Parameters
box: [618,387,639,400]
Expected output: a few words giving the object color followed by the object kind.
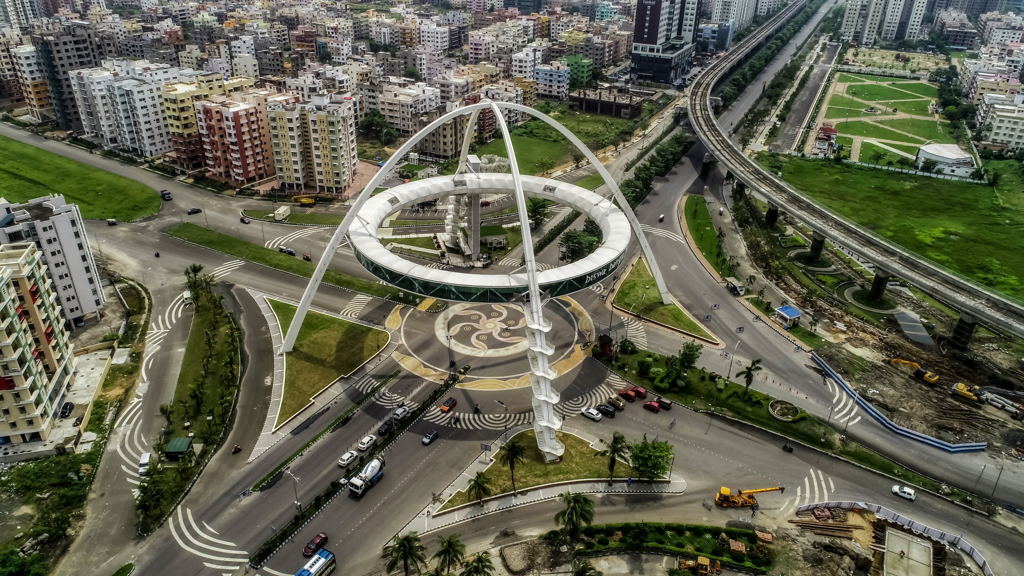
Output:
red vehicle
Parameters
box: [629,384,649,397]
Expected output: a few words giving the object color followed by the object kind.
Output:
red vehicle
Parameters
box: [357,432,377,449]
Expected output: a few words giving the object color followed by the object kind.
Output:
white car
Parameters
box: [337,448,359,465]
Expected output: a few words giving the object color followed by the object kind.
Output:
white car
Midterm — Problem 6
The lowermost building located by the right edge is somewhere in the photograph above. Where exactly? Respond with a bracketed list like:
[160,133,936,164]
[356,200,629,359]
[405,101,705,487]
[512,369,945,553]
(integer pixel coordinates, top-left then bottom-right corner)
[907,141,997,182]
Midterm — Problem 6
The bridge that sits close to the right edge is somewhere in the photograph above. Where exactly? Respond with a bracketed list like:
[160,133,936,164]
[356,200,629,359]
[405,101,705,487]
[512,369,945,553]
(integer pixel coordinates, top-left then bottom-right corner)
[688,0,1024,355]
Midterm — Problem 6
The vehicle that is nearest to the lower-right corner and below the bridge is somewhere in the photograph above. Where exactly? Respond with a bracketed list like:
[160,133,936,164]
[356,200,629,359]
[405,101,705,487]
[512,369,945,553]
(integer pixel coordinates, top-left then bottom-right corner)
[893,485,917,499]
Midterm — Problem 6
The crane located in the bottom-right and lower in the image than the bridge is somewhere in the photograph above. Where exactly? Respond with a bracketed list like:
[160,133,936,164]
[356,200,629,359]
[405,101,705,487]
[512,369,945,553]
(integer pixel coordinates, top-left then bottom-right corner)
[717,487,788,509]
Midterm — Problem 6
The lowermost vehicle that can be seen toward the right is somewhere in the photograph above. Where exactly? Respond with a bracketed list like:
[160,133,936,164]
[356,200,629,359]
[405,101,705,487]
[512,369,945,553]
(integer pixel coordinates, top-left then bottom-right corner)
[678,554,724,576]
